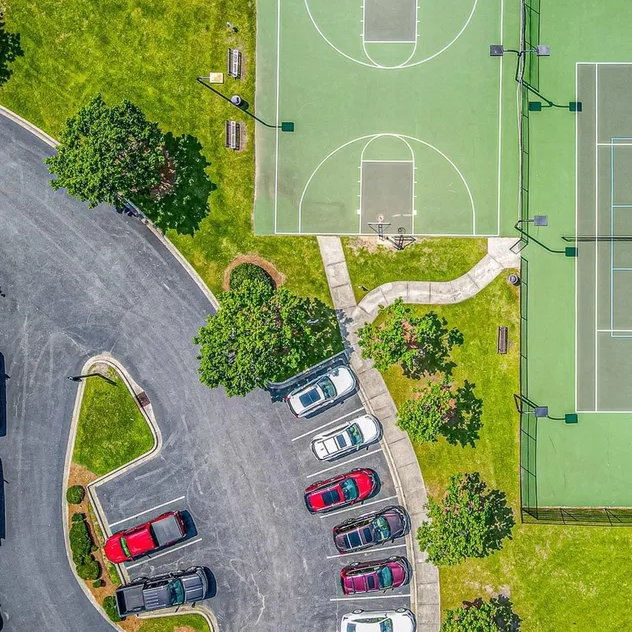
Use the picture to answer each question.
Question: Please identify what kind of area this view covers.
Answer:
sports ground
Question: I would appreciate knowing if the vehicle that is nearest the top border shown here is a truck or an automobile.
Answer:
automobile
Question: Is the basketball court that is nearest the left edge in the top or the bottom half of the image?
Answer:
top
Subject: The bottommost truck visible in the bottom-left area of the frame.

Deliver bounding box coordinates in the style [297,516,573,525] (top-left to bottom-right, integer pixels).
[113,568,209,617]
